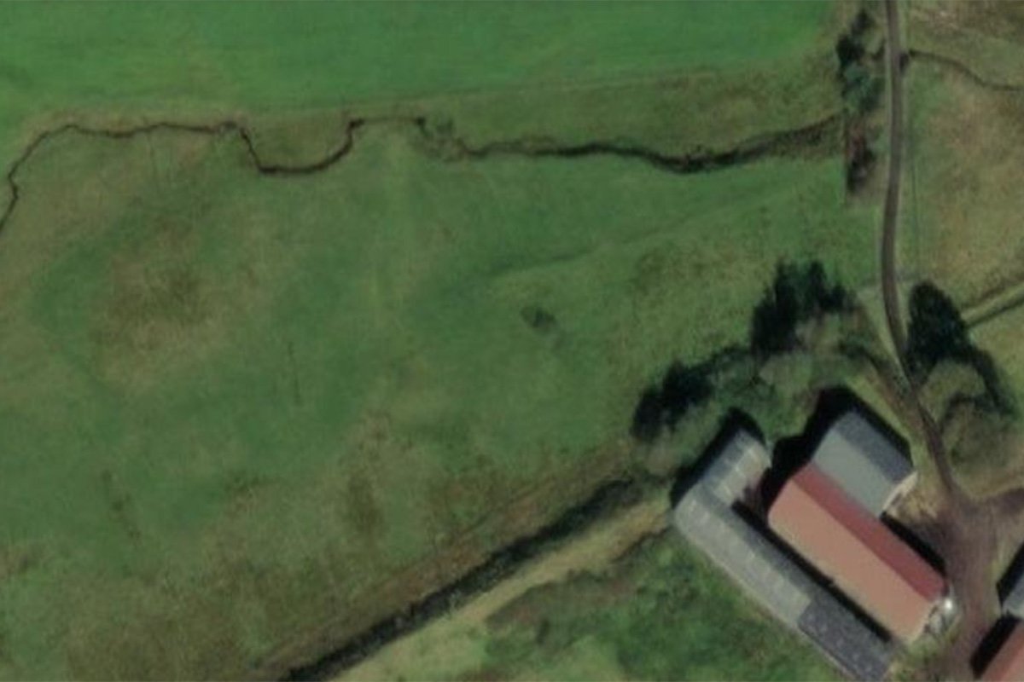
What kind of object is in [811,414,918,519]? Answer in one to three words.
barn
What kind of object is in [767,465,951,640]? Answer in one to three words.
barn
